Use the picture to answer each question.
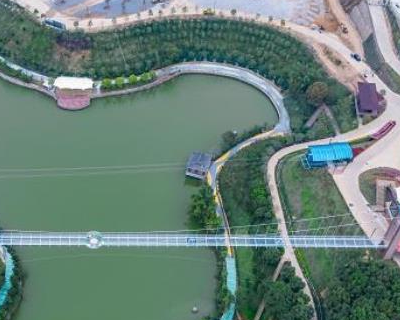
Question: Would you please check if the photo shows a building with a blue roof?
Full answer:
Yes, there is a building with a blue roof in the image.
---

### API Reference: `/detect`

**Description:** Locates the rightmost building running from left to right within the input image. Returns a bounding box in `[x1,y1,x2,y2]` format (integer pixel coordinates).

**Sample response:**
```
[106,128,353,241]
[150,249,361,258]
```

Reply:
[306,143,360,172]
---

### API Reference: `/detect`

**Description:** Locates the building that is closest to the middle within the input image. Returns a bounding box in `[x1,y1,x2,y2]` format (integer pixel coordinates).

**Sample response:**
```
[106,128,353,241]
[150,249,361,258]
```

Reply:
[185,152,212,178]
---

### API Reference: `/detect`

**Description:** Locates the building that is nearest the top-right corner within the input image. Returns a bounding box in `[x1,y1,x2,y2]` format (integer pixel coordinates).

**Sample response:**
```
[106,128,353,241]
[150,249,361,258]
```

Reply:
[355,79,381,123]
